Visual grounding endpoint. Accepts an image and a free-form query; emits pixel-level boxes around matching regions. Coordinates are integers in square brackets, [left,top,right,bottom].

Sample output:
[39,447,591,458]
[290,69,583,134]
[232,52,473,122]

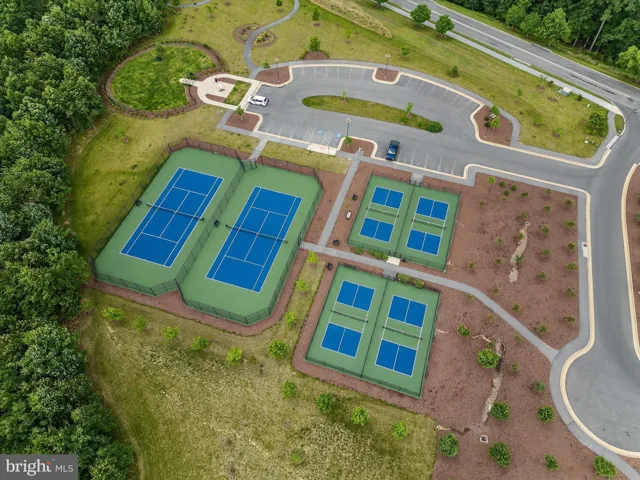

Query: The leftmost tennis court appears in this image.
[94,148,245,298]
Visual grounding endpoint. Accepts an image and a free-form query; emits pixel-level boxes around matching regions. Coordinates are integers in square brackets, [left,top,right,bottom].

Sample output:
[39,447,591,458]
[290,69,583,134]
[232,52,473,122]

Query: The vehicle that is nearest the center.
[387,139,401,160]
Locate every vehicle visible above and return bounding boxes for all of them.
[248,96,268,107]
[387,139,401,160]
